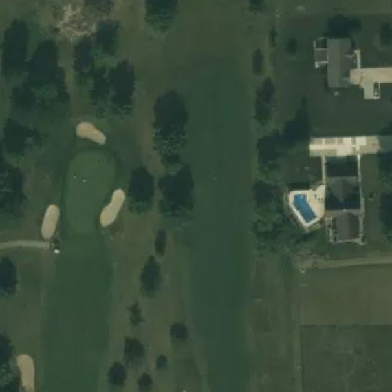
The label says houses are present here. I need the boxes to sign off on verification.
[314,36,354,88]
[325,175,360,241]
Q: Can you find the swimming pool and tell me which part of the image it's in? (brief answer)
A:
right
